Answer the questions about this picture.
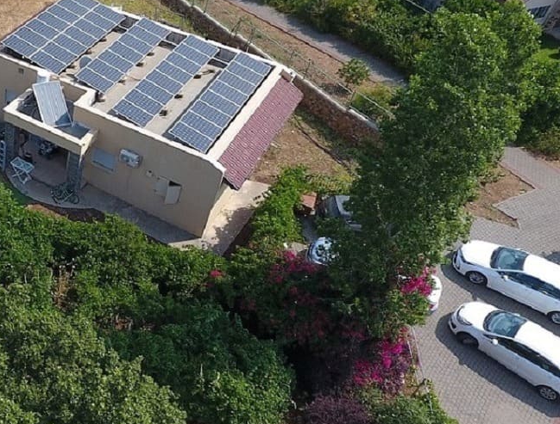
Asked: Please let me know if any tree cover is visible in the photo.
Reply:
Yes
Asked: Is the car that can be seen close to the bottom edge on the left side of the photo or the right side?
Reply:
right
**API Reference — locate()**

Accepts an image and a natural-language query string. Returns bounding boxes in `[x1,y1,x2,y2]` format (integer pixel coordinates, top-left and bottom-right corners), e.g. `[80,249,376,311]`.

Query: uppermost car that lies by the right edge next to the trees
[455,240,560,325]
